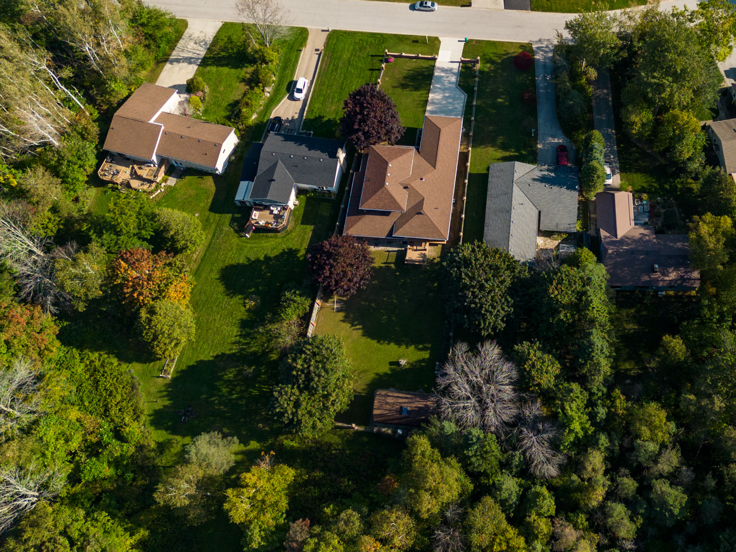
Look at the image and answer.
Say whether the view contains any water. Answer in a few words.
No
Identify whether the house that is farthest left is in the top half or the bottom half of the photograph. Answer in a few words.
top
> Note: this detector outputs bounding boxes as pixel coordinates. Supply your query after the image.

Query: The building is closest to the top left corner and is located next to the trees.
[103,96,241,176]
